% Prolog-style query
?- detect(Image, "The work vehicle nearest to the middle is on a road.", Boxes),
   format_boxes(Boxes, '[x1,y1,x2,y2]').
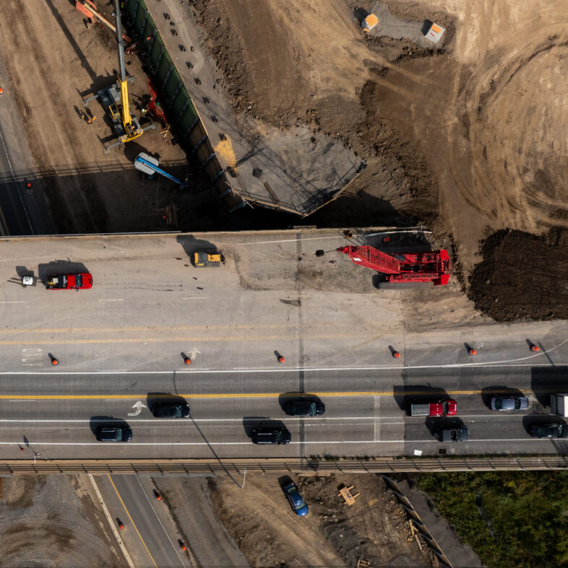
[196,252,225,268]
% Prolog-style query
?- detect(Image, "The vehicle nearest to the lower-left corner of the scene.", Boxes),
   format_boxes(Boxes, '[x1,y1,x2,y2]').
[96,425,132,442]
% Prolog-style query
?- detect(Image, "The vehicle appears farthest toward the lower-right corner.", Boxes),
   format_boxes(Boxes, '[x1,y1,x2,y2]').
[529,421,567,438]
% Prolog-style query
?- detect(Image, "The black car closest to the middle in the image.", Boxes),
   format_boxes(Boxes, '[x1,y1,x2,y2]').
[285,400,323,417]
